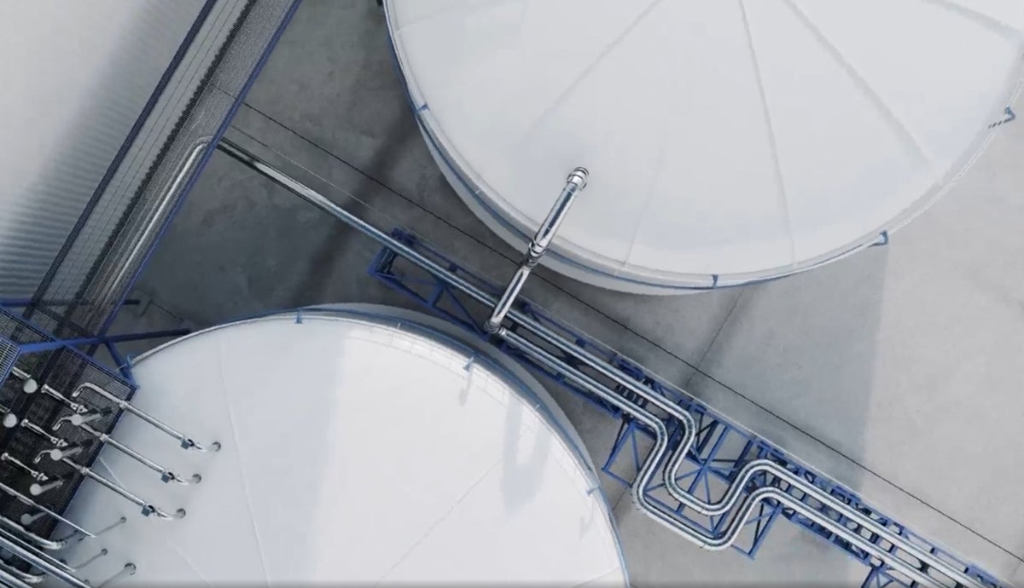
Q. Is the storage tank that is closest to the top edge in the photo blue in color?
No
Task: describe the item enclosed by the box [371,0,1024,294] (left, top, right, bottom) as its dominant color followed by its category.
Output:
white storage tank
